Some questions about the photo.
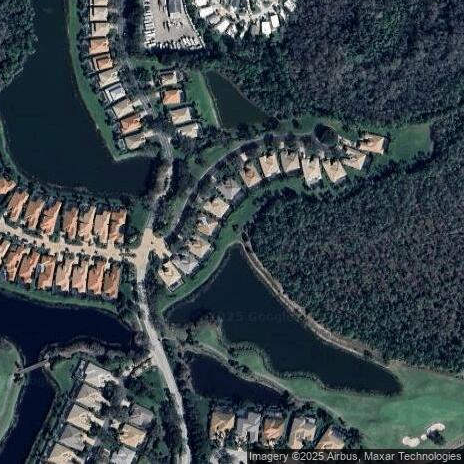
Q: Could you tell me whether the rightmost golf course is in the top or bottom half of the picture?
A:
bottom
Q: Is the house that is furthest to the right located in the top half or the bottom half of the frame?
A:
top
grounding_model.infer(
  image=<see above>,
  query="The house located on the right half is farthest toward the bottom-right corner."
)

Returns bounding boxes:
[313,422,349,456]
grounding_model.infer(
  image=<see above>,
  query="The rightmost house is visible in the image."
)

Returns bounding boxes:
[361,133,389,152]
